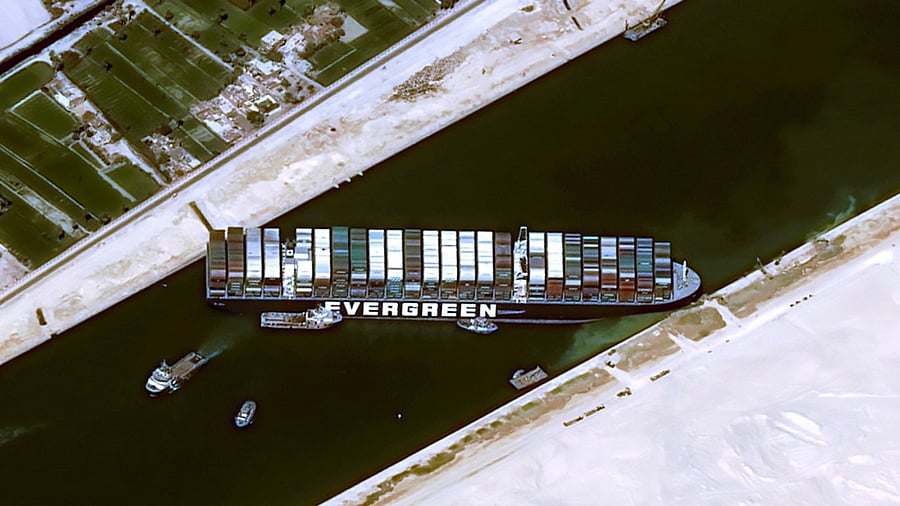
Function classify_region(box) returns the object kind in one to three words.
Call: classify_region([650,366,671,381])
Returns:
vehicle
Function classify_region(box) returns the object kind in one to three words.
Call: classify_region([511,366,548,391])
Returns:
ship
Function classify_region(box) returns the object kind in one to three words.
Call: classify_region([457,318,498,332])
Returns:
boat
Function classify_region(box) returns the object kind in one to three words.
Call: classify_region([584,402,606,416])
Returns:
vehicle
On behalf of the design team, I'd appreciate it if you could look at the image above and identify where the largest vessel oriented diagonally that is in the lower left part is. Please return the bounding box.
[147,348,206,390]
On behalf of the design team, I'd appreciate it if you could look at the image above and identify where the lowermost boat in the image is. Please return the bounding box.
[234,399,258,427]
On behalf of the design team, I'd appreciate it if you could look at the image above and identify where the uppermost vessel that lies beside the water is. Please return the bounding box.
[624,0,664,43]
